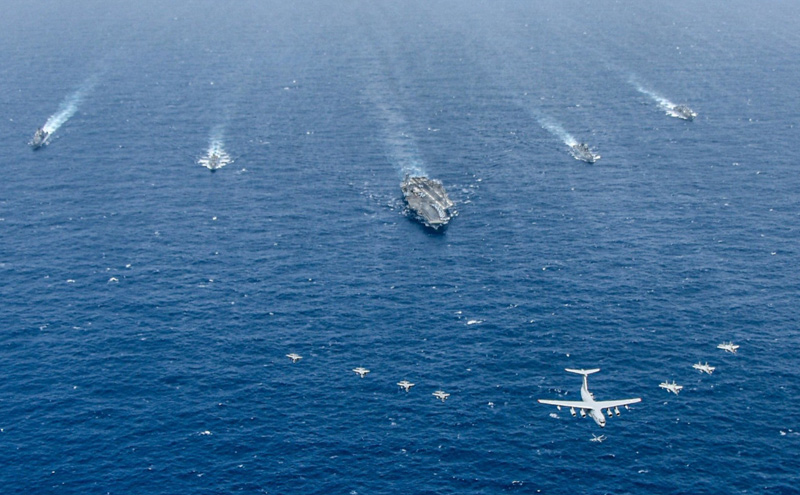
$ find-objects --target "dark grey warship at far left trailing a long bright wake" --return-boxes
[34,130,50,151]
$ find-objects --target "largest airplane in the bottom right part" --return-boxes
[538,369,642,429]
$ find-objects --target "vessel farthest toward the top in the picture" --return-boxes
[670,105,693,123]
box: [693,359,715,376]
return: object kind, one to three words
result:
airplane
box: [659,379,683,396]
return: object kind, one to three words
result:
airplane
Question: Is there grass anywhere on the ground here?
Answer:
No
